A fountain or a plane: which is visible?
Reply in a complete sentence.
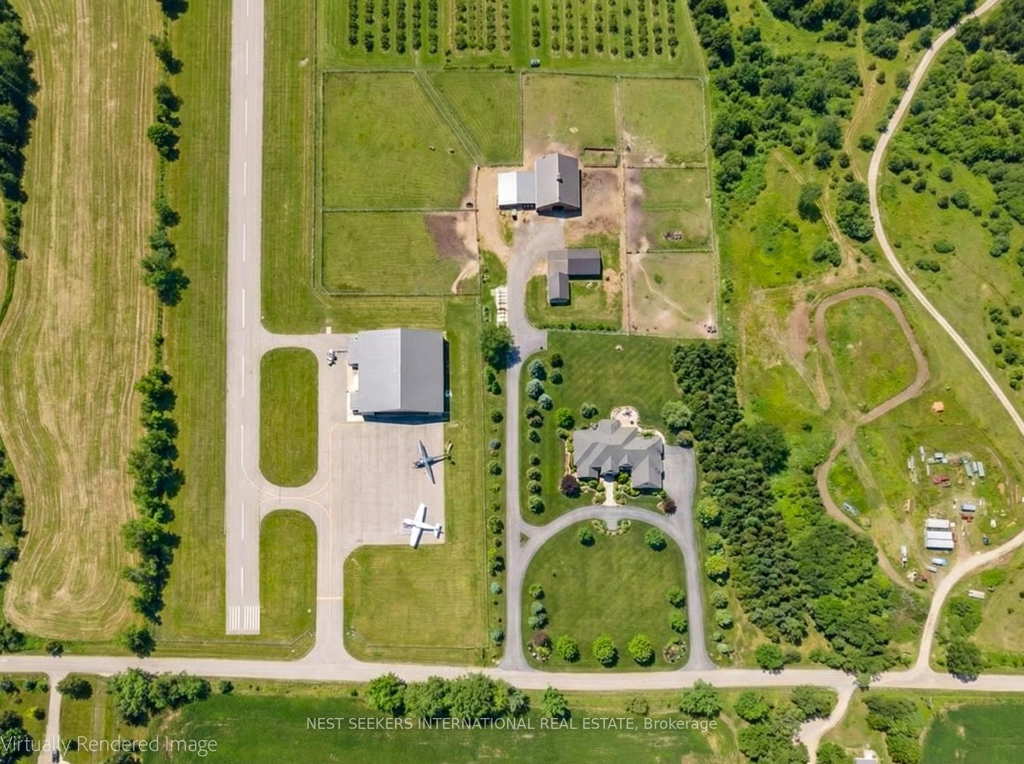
It is a plane that can be seen here.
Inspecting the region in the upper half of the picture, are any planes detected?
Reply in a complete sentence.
No, no plane is visible in the upper half of the picture.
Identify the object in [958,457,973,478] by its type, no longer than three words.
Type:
vehicle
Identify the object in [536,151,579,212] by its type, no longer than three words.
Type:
barn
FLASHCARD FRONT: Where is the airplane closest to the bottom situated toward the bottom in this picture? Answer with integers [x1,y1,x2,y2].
[403,504,441,547]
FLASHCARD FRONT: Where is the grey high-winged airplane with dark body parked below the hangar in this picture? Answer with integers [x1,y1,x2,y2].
[415,440,455,485]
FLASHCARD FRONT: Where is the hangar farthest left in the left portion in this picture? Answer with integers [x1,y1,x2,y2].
[348,330,446,413]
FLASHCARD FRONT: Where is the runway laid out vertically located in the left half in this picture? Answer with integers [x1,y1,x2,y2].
[226,0,264,634]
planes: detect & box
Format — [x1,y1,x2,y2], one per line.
[403,504,441,547]
[415,440,455,485]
